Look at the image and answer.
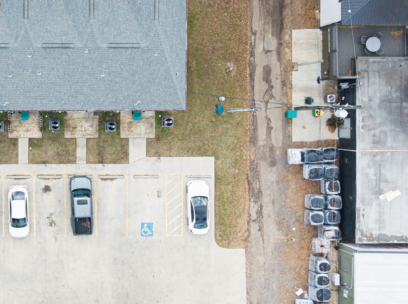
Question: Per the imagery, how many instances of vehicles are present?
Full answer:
In total, there are 3 vehicles in the scene.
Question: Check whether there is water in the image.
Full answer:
No, the scene doesn't show any water.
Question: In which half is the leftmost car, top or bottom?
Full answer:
It is in the bottom half that the leftmost car appears.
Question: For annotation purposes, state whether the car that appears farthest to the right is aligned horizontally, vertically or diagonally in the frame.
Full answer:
The car that appears farthest to the right has been laid out vertically relative to the frame.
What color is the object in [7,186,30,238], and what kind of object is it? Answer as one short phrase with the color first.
white car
